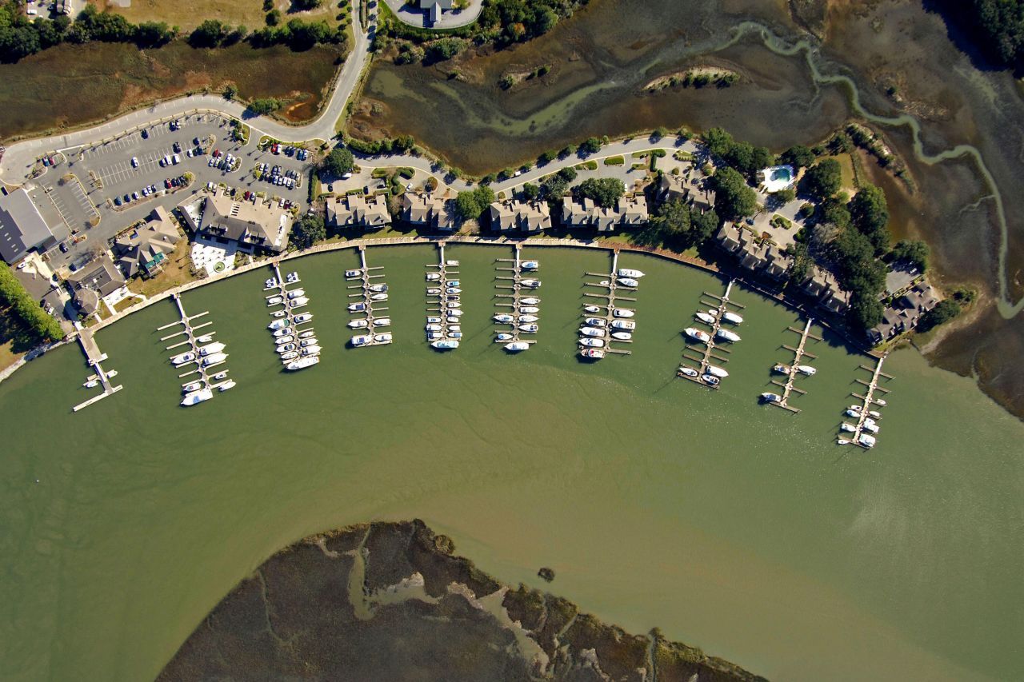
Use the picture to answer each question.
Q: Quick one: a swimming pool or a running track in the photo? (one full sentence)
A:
Looking from above, you can make out a swimming pool.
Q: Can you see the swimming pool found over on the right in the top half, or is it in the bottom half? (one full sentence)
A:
The swimming pool found over on the right is in the top half of the image.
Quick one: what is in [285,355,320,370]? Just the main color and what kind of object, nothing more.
white boat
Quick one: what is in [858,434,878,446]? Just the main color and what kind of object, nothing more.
white boat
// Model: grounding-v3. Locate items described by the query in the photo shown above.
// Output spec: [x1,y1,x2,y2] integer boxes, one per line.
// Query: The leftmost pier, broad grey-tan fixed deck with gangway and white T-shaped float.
[73,327,122,412]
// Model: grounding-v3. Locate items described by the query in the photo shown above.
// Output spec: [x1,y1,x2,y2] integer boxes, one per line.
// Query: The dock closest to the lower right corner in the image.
[841,354,893,449]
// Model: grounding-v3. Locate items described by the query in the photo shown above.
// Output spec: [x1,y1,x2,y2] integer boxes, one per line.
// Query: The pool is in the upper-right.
[764,165,797,192]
